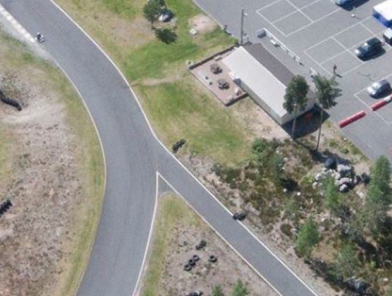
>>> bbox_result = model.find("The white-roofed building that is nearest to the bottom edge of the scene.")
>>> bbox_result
[222,45,314,128]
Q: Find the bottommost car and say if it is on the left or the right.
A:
right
